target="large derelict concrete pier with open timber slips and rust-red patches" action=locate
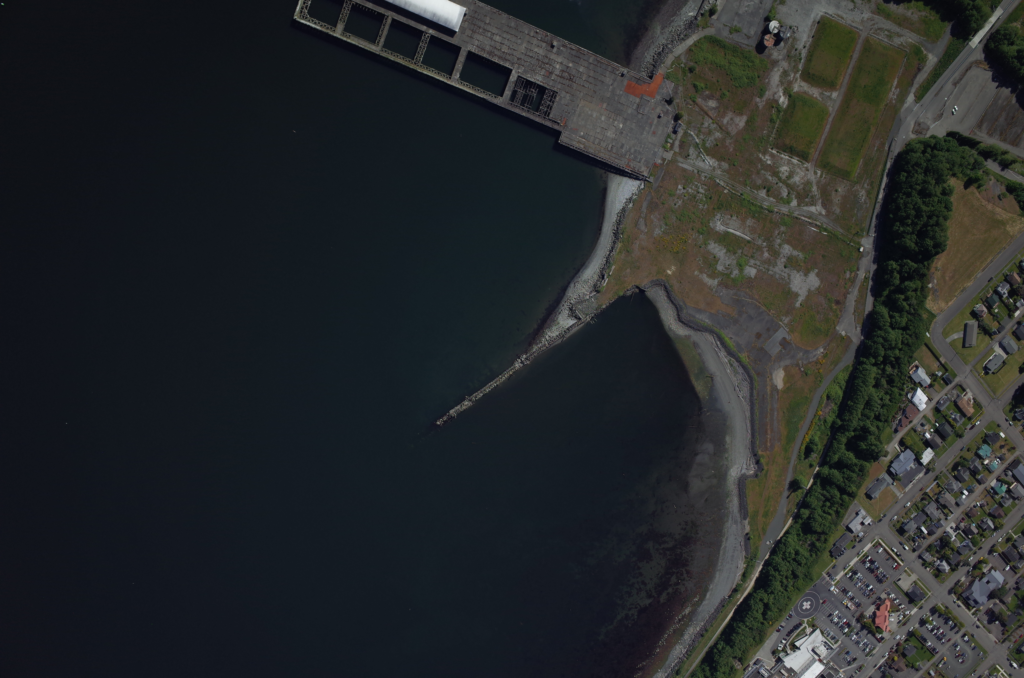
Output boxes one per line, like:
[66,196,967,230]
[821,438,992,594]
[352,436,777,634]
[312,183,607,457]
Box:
[294,0,677,181]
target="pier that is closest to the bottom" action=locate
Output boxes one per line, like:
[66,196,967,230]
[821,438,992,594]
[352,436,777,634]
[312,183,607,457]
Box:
[436,318,584,424]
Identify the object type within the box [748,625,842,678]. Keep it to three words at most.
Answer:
building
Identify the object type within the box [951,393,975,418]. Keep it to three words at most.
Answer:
house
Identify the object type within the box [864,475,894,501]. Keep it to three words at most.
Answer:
house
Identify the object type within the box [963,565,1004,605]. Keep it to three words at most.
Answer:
building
